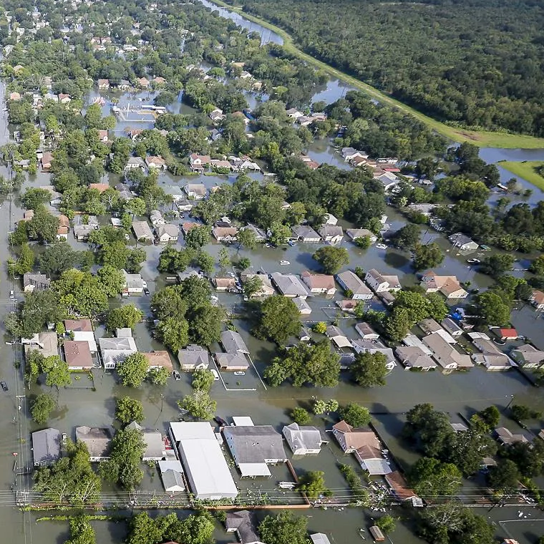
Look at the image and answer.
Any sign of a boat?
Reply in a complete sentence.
No, the picture doesn't show any boat.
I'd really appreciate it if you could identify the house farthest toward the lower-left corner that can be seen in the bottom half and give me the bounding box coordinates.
[31,432,60,467]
